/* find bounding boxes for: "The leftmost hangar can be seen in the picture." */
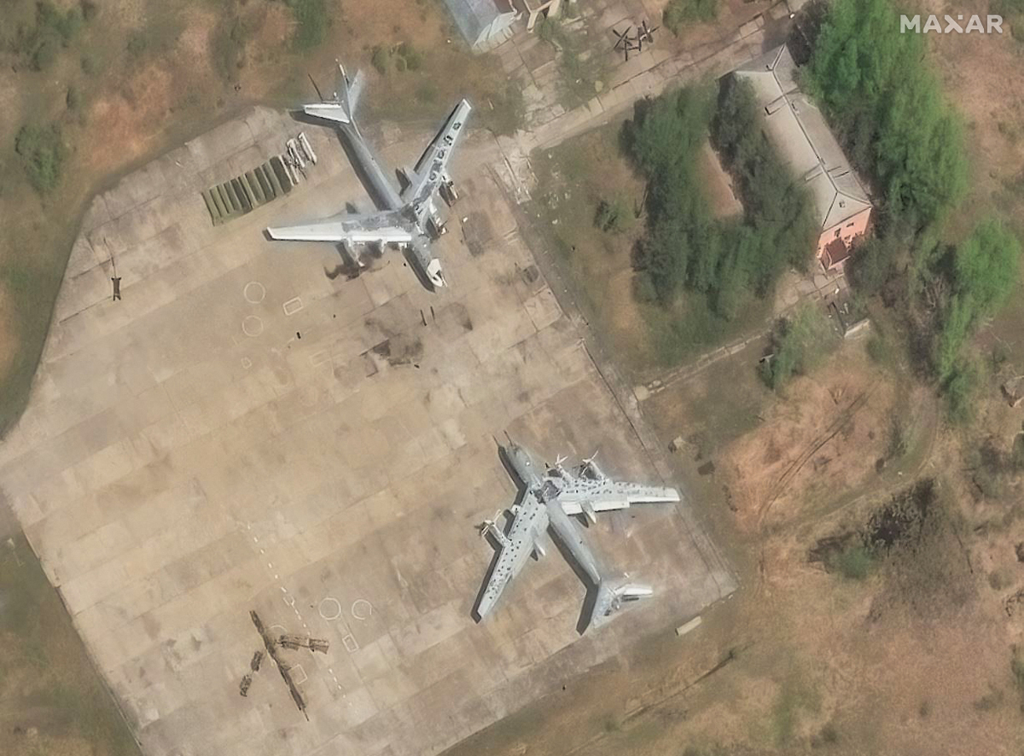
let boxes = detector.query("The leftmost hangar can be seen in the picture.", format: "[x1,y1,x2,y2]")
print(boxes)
[443,0,516,60]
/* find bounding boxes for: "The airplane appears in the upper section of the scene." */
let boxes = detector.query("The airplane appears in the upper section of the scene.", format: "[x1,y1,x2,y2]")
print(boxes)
[263,60,467,293]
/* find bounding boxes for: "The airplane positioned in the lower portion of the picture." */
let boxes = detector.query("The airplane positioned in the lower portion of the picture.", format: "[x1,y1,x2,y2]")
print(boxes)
[474,431,679,628]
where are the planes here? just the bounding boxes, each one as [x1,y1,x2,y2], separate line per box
[263,60,467,293]
[474,431,679,628]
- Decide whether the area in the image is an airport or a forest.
airport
